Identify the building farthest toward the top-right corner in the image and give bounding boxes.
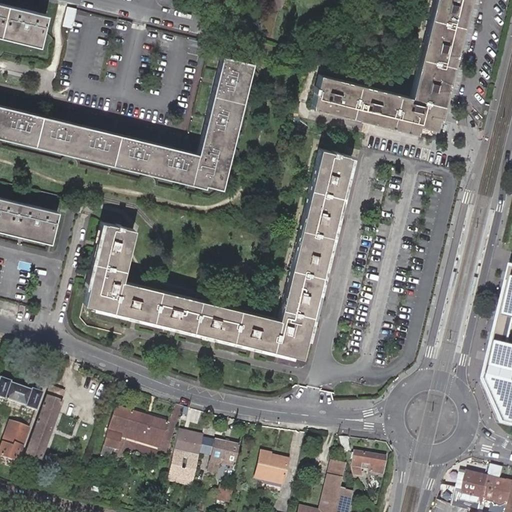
[305,0,472,138]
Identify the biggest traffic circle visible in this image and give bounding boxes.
[385,371,478,464]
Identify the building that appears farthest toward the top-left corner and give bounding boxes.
[0,6,50,51]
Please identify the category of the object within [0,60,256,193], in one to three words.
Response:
building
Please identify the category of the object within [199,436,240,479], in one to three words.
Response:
house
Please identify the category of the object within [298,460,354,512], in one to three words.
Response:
house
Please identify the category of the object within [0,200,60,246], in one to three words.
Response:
building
